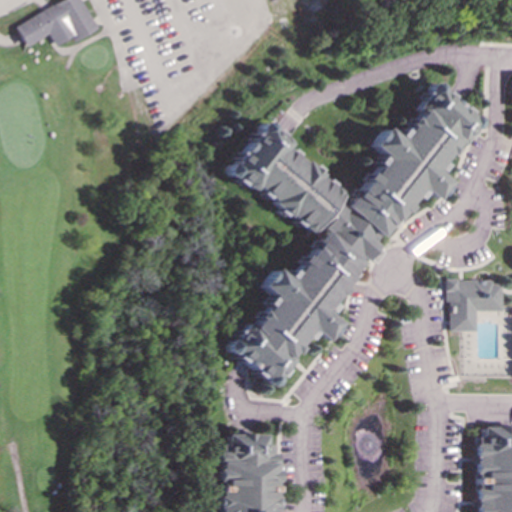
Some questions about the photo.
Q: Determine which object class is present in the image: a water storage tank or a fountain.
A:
fountain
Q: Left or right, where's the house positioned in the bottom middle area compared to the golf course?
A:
to the right of it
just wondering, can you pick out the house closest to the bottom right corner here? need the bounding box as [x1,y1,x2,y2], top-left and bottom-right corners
[471,426,512,512]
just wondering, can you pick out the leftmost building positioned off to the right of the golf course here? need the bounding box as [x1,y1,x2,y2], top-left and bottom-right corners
[218,434,284,512]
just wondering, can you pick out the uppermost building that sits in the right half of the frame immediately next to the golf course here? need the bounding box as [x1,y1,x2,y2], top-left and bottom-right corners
[228,79,486,384]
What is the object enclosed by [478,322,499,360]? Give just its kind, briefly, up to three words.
swimming pool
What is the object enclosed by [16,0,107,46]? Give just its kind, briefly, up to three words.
building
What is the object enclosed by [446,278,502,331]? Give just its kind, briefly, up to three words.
building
